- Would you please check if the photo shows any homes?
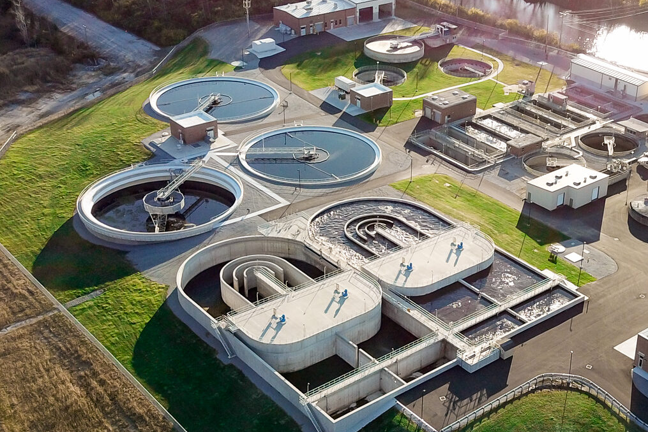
Yes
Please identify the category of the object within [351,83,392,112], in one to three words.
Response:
house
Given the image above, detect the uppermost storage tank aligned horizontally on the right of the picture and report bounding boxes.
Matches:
[363,28,440,62]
